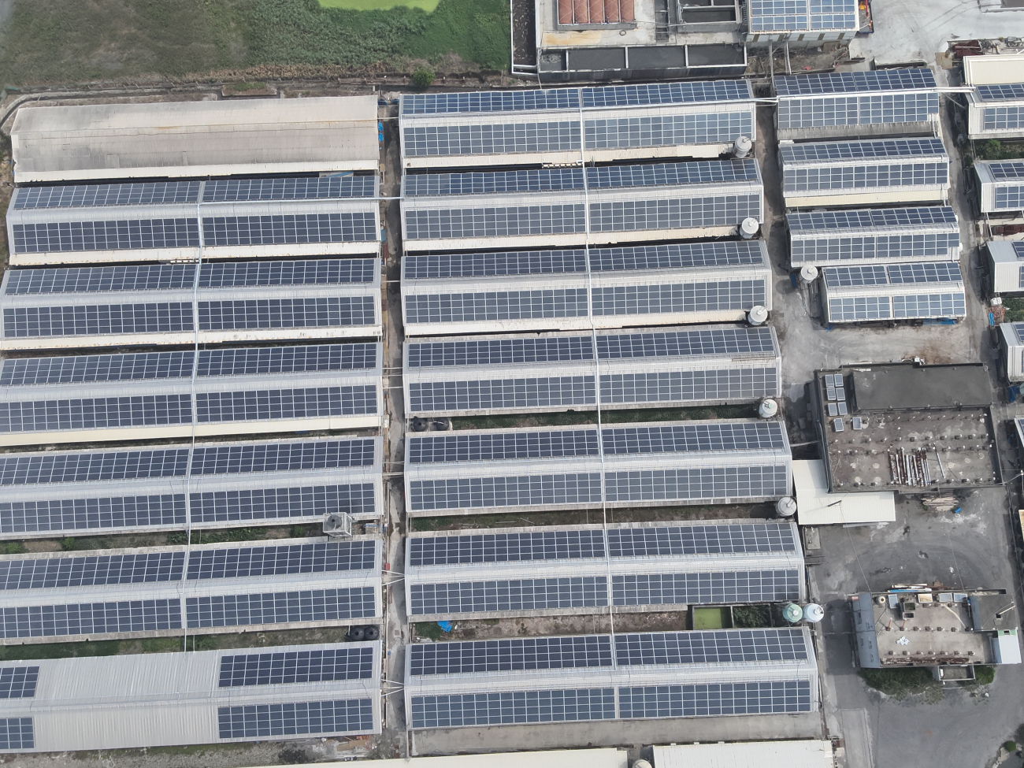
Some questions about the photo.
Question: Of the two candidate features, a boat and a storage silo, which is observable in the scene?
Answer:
storage silo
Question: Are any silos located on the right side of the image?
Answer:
Yes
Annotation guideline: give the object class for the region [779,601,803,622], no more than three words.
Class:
silo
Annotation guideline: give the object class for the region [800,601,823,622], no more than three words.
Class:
silo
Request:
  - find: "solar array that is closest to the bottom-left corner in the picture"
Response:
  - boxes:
[0,718,35,750]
